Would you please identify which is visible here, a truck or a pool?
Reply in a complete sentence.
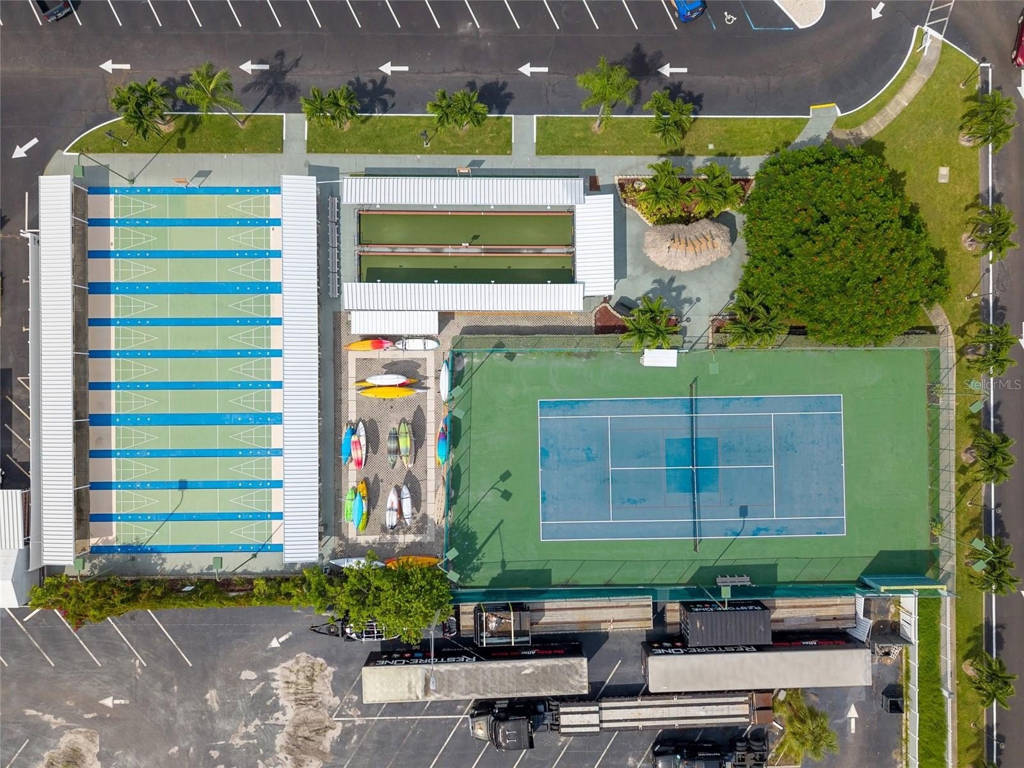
Of the two, only a truck appears.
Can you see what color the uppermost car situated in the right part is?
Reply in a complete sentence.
From above, the uppermost car situated in the right part appears blue.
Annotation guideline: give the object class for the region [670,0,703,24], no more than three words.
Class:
car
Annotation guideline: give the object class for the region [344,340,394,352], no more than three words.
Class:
boat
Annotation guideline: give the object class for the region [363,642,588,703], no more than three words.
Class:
trailer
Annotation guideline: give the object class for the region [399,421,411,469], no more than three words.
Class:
boat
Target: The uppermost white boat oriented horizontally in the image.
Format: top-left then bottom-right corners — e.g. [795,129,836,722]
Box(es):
[395,338,439,351]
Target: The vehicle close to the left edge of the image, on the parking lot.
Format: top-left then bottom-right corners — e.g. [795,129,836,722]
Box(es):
[36,0,71,24]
